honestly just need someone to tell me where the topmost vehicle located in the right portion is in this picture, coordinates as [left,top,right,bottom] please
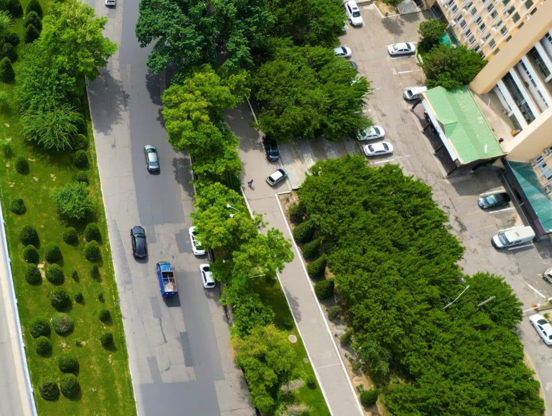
[343,1,363,26]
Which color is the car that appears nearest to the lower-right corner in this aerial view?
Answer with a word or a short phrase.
white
